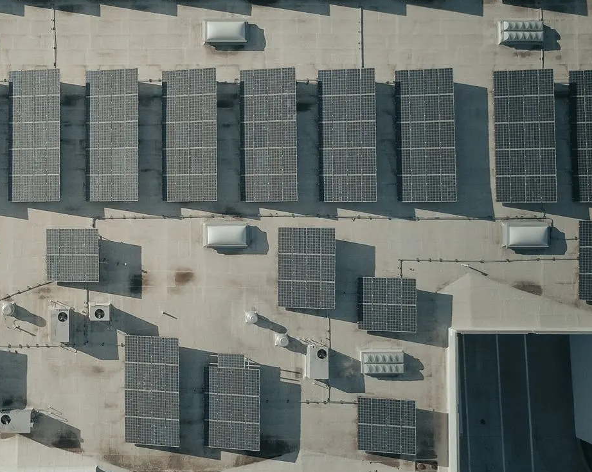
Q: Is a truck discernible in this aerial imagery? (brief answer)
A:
No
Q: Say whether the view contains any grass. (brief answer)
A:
No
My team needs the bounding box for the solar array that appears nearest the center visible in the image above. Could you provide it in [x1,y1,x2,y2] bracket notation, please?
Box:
[278,228,335,309]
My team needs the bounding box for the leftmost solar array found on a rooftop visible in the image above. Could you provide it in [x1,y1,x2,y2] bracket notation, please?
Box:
[8,68,60,202]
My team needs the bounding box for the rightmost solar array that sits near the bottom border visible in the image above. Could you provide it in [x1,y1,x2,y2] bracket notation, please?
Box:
[358,397,416,455]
